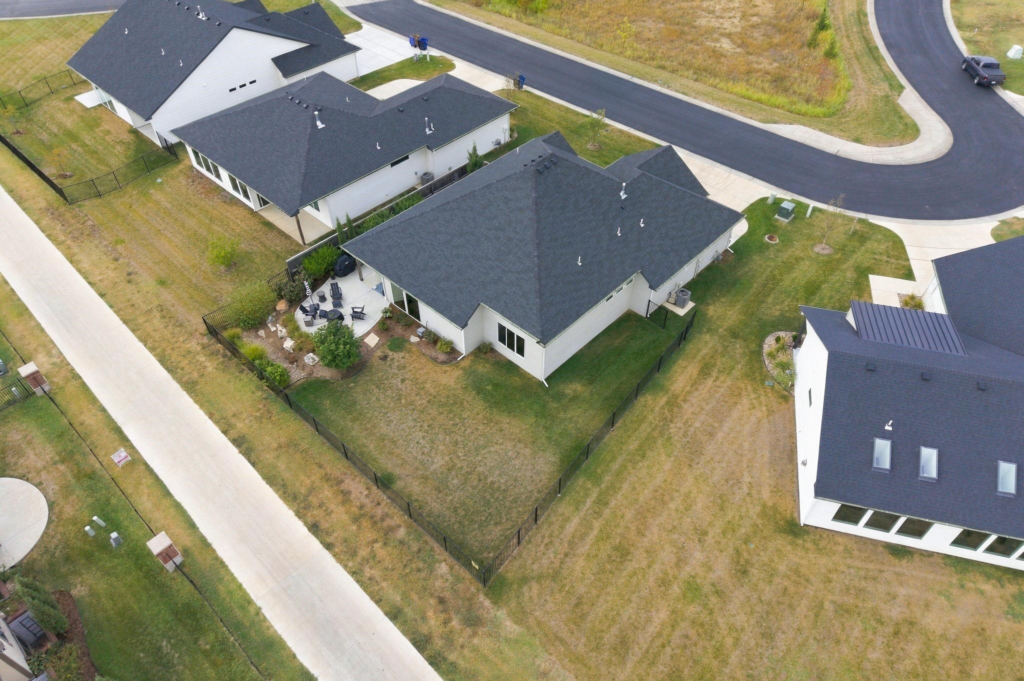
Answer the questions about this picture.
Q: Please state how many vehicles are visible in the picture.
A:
1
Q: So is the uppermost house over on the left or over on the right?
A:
left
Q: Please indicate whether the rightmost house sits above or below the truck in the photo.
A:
below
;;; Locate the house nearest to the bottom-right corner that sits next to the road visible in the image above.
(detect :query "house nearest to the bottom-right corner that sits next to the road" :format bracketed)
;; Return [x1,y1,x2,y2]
[794,245,1024,567]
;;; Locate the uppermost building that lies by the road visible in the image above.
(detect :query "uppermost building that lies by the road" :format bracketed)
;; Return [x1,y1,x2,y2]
[59,0,359,148]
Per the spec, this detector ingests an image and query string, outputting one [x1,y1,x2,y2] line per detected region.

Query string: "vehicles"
[962,55,1006,85]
